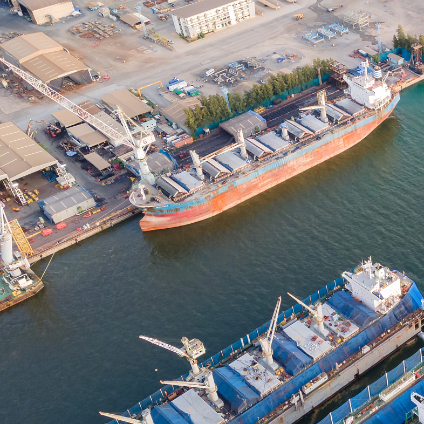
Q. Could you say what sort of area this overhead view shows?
port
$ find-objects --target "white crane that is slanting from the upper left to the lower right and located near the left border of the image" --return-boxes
[0,59,163,191]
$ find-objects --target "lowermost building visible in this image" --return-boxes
[41,183,99,221]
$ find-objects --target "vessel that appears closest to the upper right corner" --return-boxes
[136,57,405,232]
